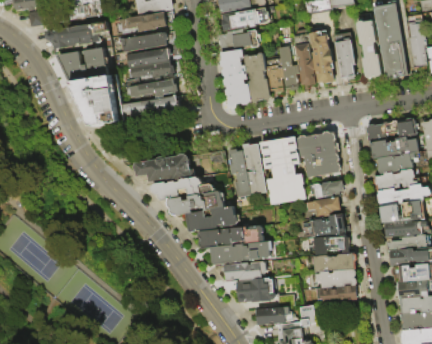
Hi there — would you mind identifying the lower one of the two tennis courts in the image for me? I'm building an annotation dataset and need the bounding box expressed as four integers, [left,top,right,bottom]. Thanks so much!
[57,270,130,344]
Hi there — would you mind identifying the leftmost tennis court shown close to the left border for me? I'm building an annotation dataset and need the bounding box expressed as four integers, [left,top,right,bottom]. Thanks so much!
[0,216,77,296]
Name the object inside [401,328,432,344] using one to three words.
house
